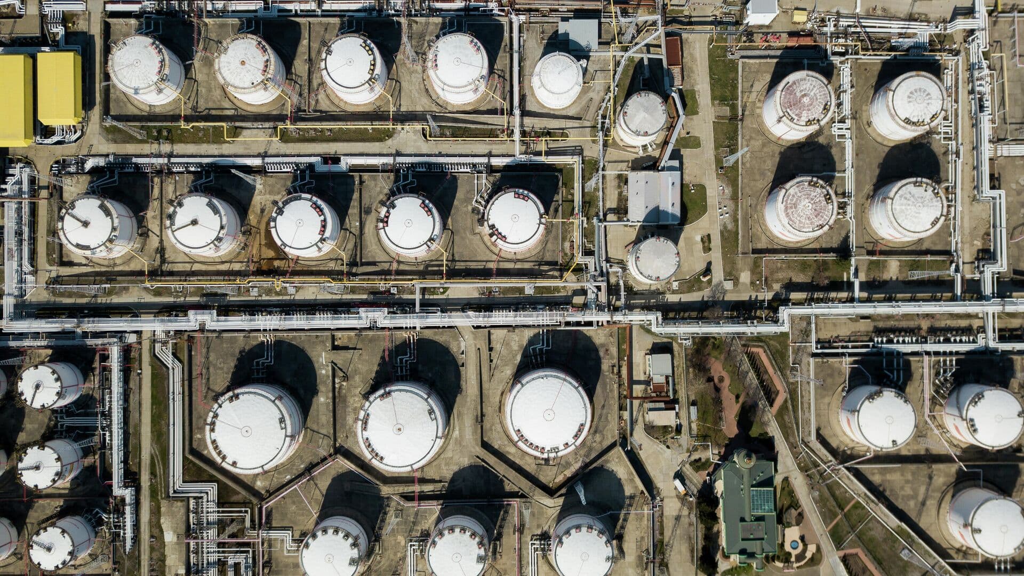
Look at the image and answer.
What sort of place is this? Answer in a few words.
industrial area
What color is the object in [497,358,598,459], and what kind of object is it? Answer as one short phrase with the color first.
white storage tank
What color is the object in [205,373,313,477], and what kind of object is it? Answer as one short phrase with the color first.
white storage tank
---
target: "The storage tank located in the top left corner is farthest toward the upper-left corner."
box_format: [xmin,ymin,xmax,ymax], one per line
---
[106,34,193,113]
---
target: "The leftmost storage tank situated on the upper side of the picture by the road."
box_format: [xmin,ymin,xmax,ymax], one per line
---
[57,190,147,267]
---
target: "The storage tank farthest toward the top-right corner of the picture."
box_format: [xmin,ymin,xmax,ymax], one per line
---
[858,70,948,150]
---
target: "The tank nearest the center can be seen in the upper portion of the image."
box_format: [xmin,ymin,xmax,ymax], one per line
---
[476,186,553,262]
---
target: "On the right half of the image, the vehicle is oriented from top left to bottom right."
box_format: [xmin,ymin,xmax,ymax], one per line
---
[674,478,688,496]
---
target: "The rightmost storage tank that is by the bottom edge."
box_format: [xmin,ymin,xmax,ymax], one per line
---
[938,478,1024,561]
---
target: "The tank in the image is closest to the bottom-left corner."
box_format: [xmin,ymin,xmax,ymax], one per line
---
[0,509,28,567]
